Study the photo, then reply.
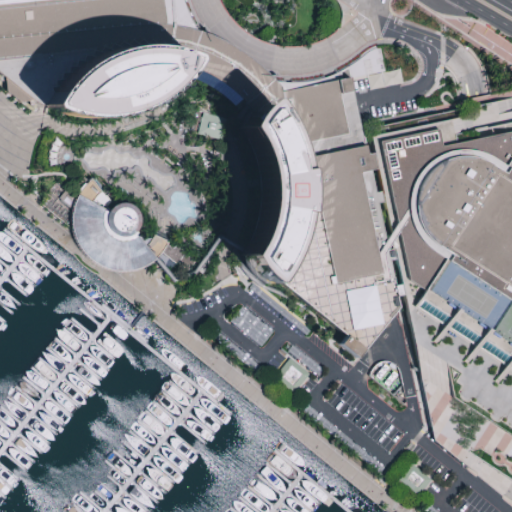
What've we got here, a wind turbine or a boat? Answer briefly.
boat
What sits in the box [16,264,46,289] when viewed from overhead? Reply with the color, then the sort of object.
white boat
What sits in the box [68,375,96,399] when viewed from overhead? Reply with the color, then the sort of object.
white boat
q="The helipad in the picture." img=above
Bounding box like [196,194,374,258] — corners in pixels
[290,168,324,211]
